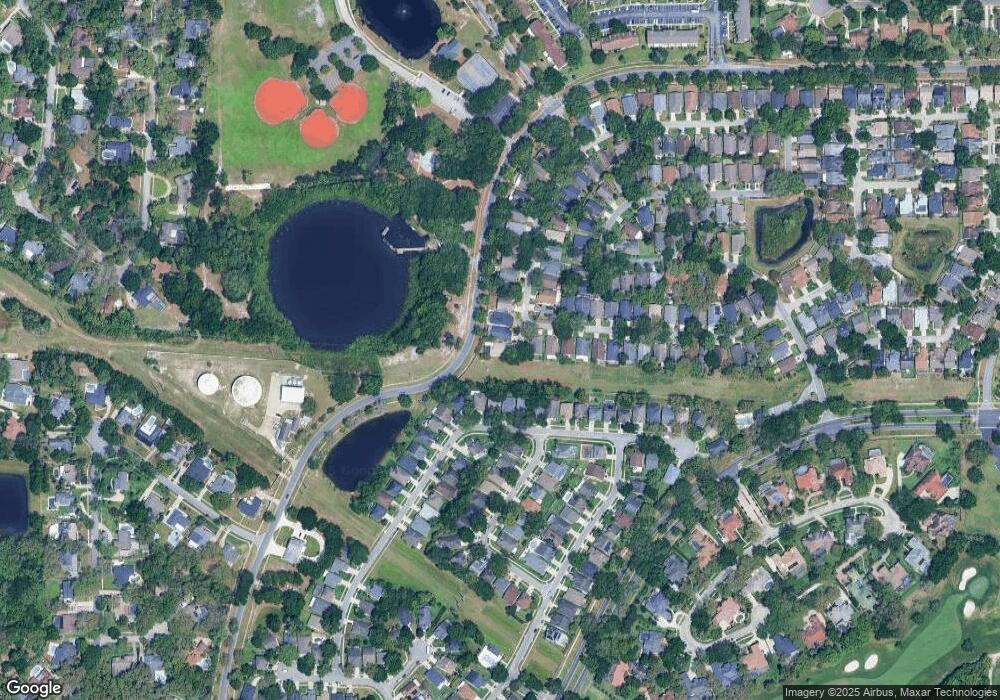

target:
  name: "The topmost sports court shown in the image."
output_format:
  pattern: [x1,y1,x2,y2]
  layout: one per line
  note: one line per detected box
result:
[458,54,498,93]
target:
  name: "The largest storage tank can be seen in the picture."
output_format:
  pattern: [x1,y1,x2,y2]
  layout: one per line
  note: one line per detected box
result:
[231,376,262,406]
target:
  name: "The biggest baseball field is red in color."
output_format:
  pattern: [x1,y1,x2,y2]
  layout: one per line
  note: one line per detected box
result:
[253,76,311,126]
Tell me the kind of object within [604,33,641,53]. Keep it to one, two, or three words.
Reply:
building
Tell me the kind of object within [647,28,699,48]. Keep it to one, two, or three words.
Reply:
building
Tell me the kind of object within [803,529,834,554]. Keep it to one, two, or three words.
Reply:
house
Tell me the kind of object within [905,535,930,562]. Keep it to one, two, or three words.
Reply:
house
